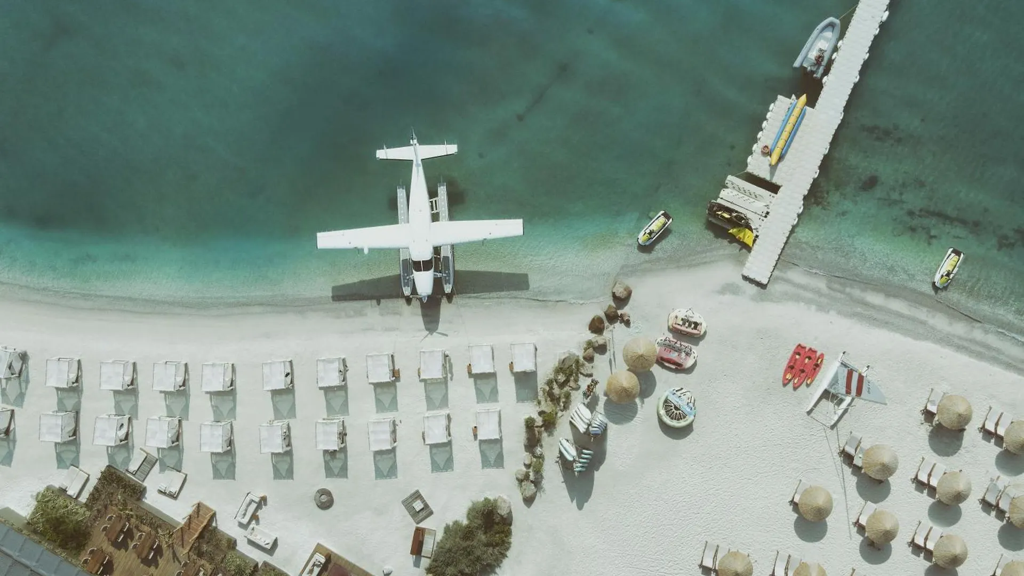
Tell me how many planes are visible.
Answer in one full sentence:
Only 1 plane is visible.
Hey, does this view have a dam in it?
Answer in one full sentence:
No, there's no dam here.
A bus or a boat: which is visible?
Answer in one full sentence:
There is a boat in the scene.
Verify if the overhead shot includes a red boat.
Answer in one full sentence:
Yes, a red boat can be made out from above.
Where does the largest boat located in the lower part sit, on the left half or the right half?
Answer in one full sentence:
The largest boat located in the lower part appears in the right half of the scene.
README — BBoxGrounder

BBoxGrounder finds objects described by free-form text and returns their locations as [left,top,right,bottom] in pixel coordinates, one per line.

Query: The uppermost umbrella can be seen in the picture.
[620,334,659,373]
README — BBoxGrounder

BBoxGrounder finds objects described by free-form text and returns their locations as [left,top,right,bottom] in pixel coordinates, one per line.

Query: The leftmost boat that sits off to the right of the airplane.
[641,209,673,245]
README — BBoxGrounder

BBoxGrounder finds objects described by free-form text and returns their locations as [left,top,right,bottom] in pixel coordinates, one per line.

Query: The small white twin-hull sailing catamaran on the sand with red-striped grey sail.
[807,350,888,427]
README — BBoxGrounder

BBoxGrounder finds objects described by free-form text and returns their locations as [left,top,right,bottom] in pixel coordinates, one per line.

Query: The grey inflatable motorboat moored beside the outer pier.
[792,15,839,80]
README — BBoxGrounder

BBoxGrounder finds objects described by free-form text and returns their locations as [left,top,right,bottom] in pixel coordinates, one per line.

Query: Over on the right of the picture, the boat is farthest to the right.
[935,248,962,289]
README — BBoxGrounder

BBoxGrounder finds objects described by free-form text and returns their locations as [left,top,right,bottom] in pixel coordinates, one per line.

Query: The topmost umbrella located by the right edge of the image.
[935,393,973,431]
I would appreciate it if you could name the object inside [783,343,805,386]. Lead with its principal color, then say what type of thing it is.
red boat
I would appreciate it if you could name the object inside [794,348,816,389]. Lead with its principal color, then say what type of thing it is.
red boat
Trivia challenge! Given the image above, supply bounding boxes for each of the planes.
[315,129,522,303]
